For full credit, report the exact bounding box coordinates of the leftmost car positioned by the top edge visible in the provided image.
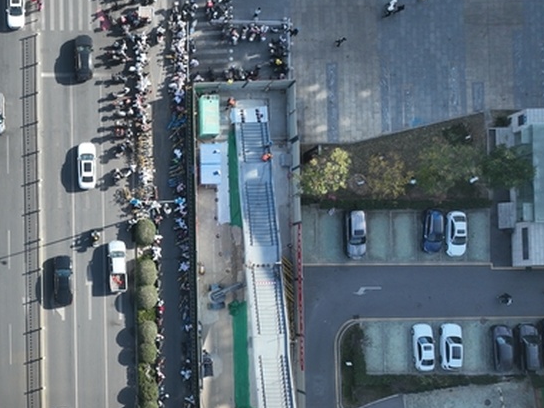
[4,0,27,31]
